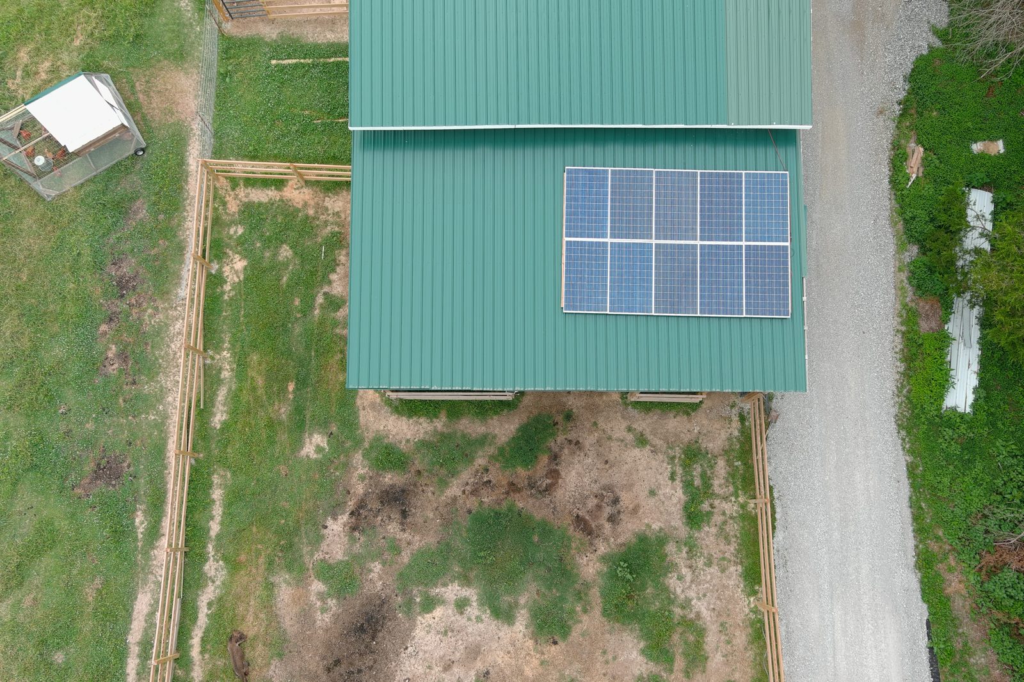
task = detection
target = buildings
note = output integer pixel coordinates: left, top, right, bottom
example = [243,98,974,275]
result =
[345,0,812,396]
